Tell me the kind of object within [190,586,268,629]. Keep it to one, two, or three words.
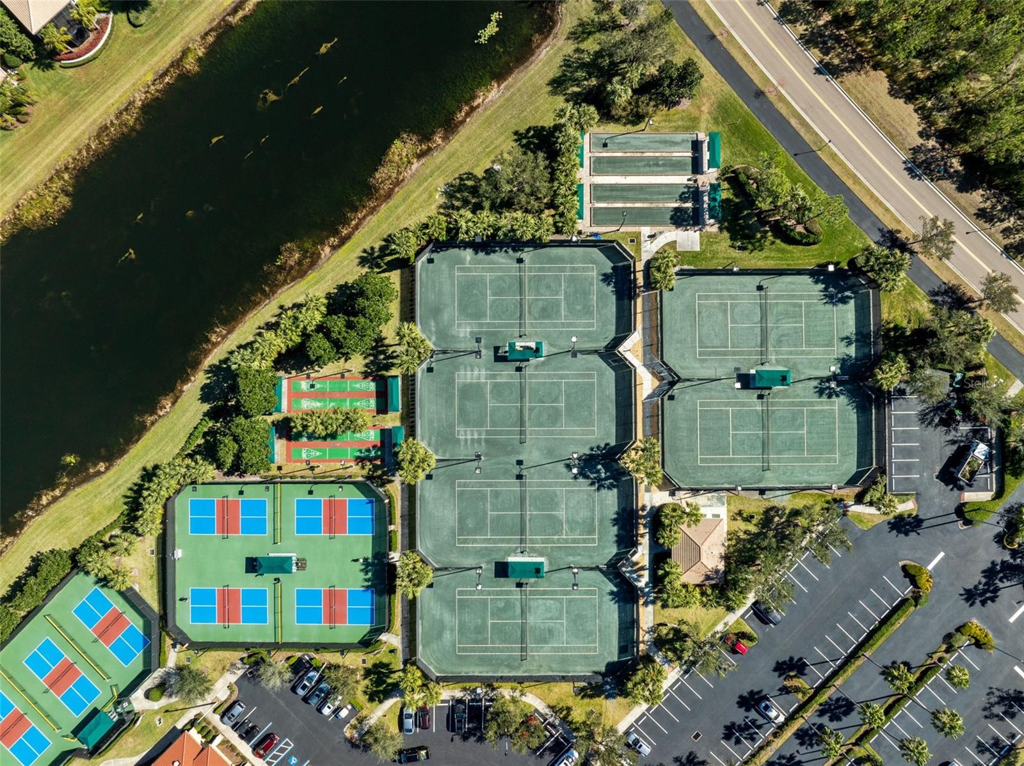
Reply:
sports court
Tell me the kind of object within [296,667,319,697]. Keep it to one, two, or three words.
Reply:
car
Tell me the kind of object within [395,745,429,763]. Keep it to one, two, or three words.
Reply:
vehicle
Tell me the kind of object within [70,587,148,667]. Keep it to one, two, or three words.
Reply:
sports court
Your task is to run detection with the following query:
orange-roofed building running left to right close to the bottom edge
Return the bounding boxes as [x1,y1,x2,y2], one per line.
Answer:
[155,730,238,766]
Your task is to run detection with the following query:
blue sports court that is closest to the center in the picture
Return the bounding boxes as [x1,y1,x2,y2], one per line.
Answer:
[295,496,374,539]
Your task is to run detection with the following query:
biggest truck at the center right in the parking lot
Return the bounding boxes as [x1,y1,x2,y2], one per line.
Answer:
[952,440,988,484]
